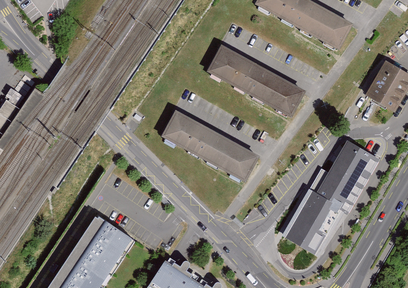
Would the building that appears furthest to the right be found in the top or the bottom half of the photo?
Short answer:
top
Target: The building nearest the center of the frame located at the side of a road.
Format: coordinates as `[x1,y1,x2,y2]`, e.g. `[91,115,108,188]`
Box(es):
[162,110,257,184]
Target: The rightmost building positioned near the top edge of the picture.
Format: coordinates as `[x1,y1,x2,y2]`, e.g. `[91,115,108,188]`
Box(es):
[257,0,352,52]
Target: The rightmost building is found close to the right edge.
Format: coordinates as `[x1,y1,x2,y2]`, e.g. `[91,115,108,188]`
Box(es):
[367,61,408,112]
